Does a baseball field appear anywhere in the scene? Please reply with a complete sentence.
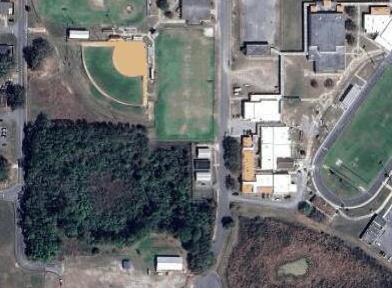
Yes, there's a baseball field here.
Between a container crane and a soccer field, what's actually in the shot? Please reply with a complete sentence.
There is a soccer field in the scene.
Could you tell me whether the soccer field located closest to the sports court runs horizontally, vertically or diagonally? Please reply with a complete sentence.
I'd say the soccer field located closest to the sports court is aligned vertically in the picture.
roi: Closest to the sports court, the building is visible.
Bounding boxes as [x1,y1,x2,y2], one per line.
[245,42,272,56]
